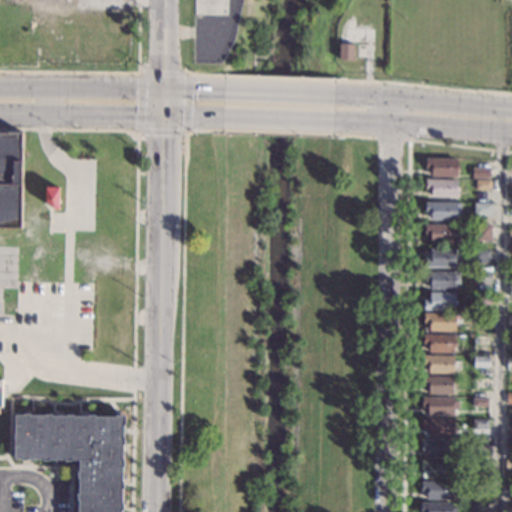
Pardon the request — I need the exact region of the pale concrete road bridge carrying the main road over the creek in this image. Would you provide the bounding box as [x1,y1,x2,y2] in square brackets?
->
[225,70,335,139]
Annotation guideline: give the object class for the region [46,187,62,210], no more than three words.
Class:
building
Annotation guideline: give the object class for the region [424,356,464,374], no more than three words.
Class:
house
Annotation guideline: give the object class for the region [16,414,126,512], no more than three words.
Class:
building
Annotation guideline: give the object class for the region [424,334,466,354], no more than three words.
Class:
house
